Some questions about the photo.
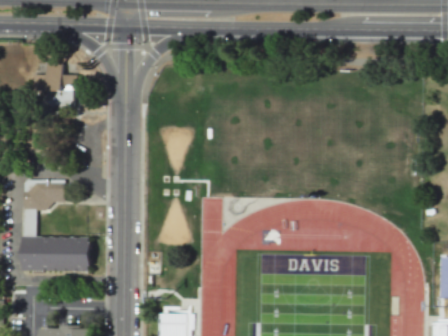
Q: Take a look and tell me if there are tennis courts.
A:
No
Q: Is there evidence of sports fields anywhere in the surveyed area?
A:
Yes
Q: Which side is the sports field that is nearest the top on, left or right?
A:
right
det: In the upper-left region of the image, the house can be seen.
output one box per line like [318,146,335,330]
[38,64,78,94]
